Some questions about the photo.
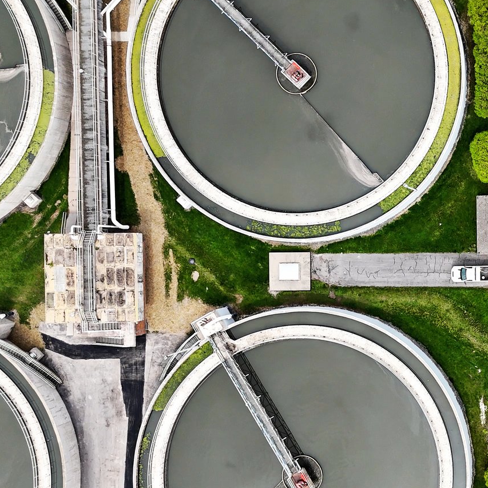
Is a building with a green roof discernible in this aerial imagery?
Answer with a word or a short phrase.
No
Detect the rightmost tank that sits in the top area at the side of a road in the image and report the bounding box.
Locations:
[130,0,469,246]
